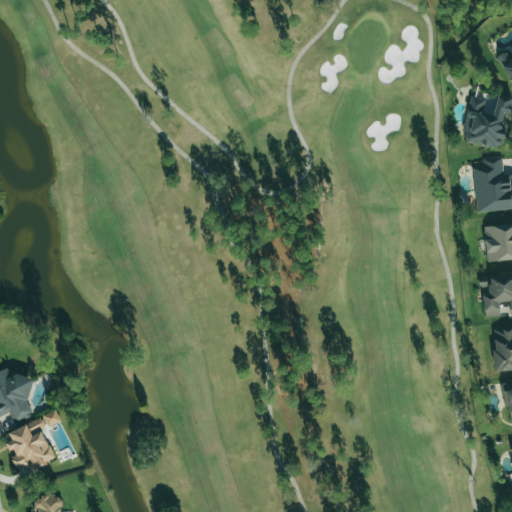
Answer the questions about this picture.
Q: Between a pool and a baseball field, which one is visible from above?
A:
pool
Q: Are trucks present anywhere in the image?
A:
No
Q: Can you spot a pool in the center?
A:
No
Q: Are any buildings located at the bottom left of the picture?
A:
Yes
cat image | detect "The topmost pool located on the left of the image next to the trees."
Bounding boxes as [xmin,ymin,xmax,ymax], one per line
[33,382,45,406]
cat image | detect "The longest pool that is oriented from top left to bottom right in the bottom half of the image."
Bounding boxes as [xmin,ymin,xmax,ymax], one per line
[50,423,75,454]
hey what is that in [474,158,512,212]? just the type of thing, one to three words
house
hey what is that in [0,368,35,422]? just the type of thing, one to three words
house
